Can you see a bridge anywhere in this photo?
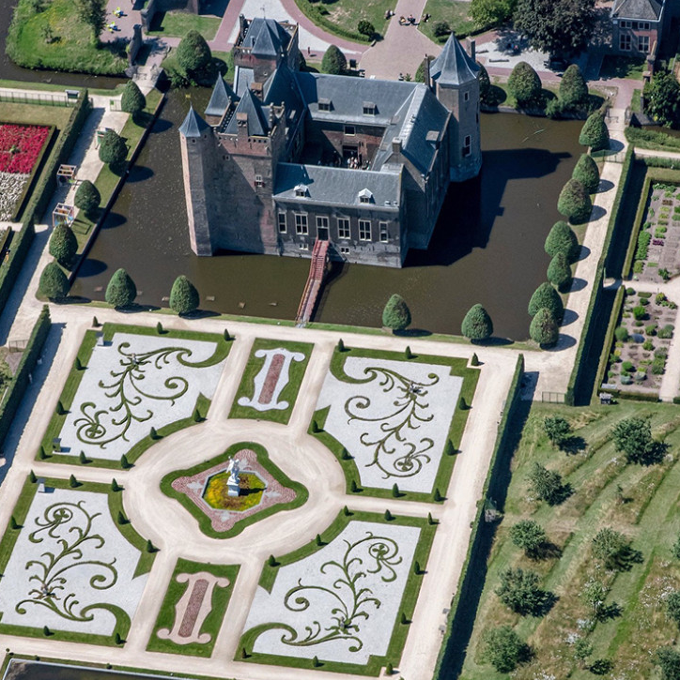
Yes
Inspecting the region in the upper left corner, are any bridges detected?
Yes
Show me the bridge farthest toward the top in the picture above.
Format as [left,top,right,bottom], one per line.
[130,61,165,94]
